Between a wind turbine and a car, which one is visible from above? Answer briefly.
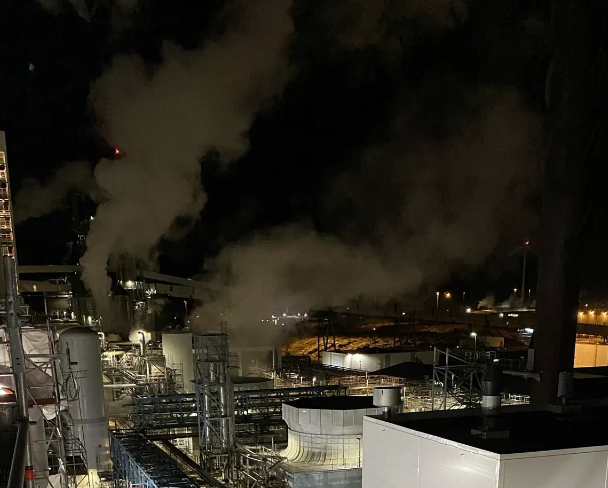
wind turbine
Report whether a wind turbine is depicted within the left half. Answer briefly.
No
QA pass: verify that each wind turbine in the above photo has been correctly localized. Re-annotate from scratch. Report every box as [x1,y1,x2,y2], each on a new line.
[504,216,544,308]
